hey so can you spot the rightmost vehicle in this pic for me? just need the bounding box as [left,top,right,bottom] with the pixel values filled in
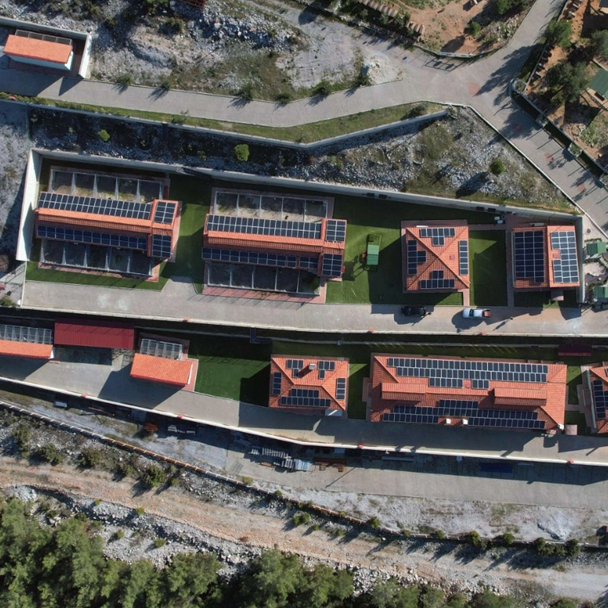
[461,307,493,320]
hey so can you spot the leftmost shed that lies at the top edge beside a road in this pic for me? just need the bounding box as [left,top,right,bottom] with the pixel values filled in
[3,25,86,80]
